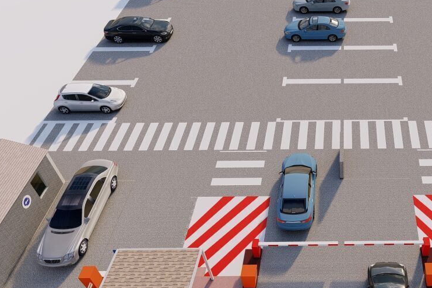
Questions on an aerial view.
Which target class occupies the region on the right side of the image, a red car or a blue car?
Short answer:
blue car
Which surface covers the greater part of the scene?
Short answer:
paved ground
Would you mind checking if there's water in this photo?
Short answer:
No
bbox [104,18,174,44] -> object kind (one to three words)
car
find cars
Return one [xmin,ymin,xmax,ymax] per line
[292,0,351,14]
[35,160,120,268]
[52,83,127,115]
[276,152,318,229]
[104,18,174,44]
[365,263,416,288]
[283,16,347,43]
